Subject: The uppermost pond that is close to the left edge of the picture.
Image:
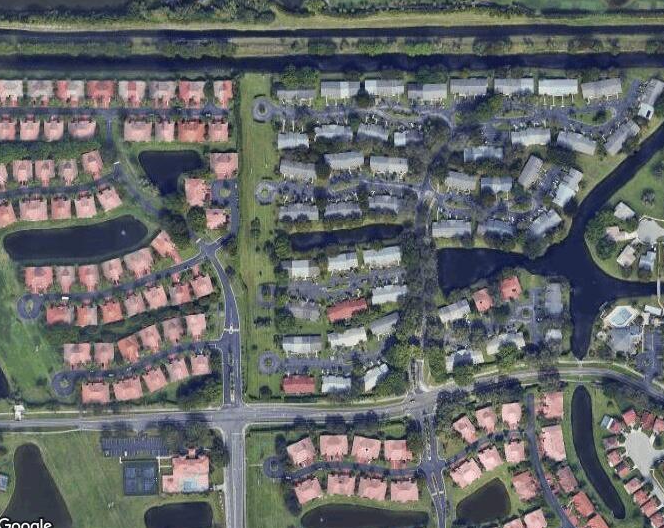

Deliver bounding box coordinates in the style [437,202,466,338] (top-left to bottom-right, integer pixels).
[4,215,147,263]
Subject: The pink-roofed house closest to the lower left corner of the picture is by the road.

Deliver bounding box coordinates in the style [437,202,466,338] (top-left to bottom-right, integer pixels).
[82,380,109,404]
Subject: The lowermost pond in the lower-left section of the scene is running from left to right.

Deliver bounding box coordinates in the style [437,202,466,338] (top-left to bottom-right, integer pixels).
[145,502,212,528]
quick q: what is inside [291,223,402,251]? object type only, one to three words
pond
